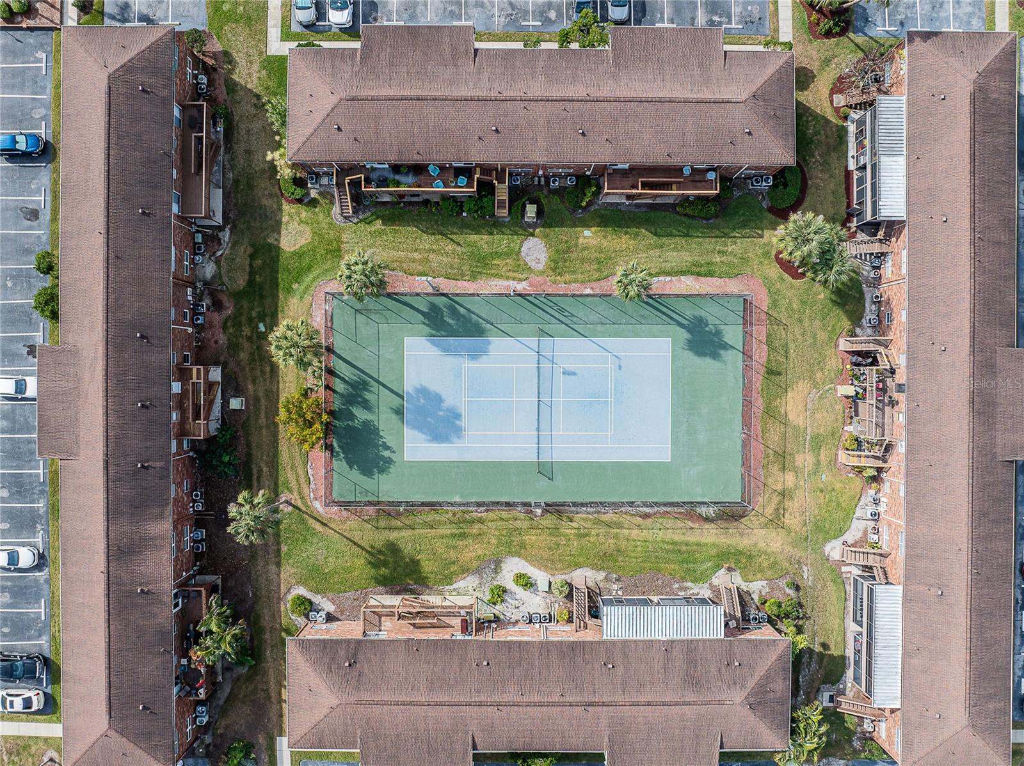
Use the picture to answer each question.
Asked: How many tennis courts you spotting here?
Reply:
1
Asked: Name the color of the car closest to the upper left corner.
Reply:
blue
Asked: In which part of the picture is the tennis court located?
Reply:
center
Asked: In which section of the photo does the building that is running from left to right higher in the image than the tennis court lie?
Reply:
top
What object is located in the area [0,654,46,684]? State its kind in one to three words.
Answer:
car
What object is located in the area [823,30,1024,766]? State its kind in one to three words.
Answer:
building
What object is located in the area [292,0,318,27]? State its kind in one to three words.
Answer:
car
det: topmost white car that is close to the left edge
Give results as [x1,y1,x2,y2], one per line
[0,375,35,400]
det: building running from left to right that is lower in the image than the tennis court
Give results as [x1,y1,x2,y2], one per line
[286,573,792,766]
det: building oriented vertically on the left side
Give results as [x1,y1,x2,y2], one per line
[35,25,224,766]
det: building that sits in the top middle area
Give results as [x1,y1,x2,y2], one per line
[287,24,796,218]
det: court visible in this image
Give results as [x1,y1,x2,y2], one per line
[332,297,744,502]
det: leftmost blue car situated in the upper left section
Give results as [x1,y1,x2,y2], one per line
[0,129,47,157]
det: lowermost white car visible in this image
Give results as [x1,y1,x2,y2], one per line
[0,688,45,716]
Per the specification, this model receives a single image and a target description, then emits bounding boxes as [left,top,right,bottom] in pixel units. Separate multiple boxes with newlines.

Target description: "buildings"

[823,30,1024,766]
[287,24,796,218]
[35,25,224,766]
[286,573,792,766]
